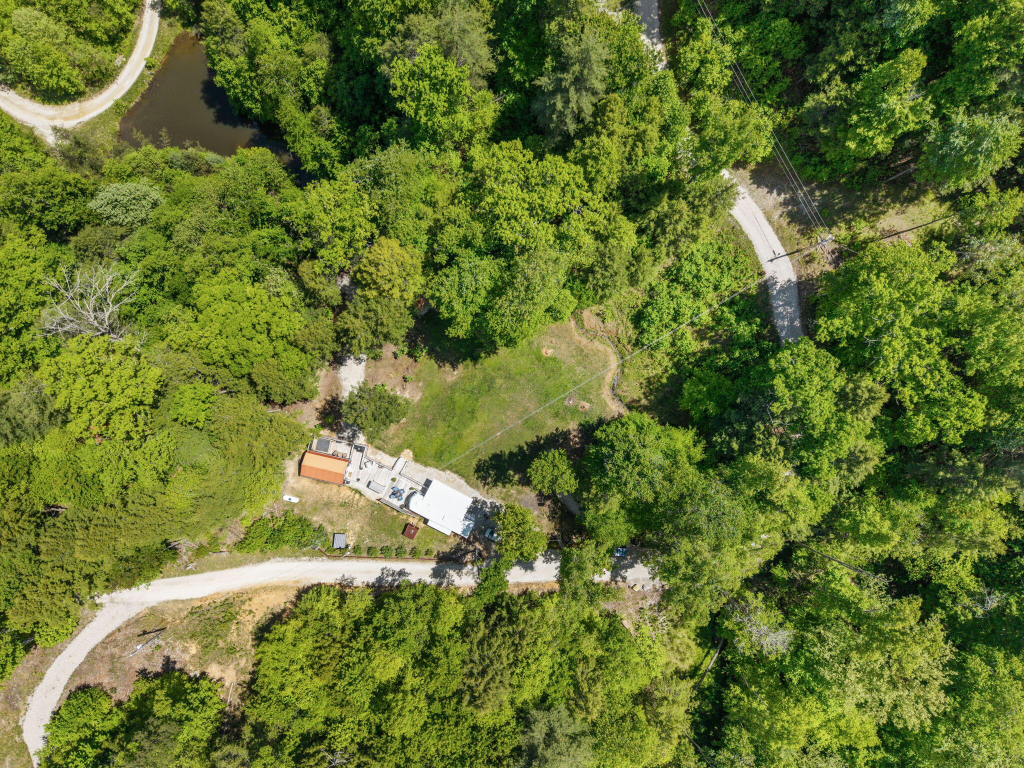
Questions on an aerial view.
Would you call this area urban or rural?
rural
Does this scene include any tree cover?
Yes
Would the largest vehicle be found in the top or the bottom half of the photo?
bottom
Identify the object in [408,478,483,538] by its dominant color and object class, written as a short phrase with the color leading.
white vehicle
